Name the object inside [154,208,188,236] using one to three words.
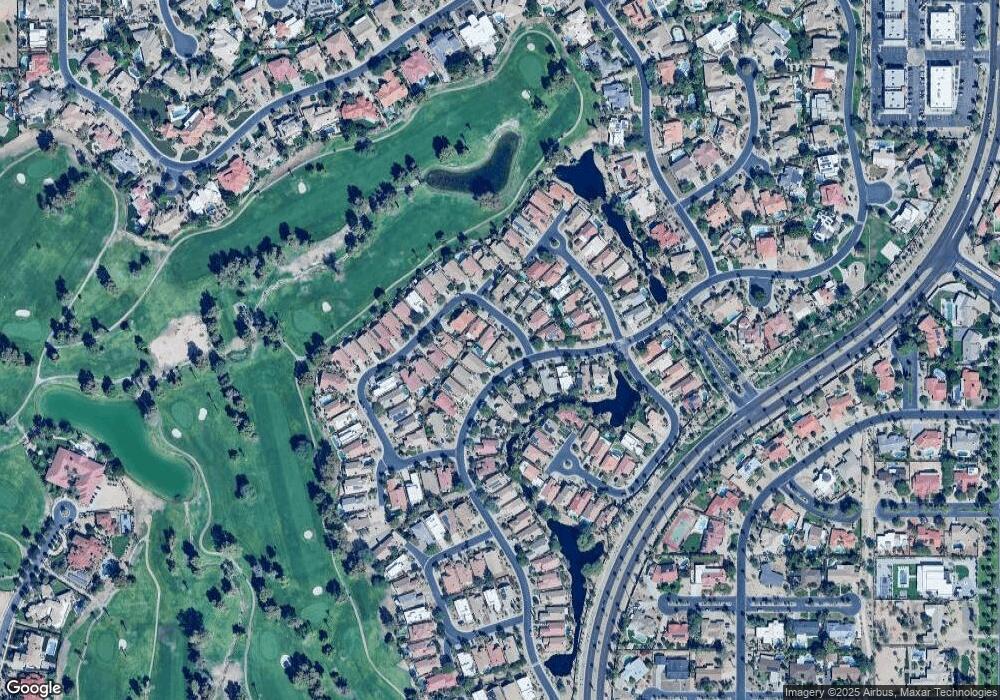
house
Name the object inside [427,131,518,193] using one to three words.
pond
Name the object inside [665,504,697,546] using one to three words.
tennis court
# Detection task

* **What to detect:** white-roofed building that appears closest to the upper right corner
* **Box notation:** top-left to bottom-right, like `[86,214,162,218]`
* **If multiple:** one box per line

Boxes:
[930,11,956,43]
